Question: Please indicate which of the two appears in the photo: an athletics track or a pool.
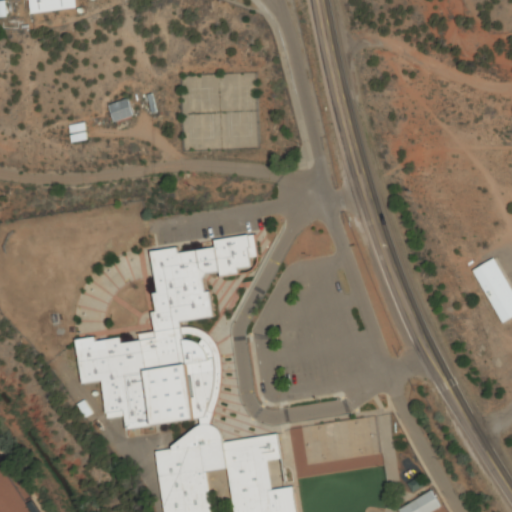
athletics track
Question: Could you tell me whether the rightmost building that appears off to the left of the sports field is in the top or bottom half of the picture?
bottom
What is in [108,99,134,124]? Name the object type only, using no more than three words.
house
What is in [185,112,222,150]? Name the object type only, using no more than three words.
sports court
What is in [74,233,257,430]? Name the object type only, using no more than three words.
building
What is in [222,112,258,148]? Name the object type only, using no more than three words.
sports court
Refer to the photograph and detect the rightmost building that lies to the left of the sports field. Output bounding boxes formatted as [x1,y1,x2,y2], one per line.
[224,434,297,512]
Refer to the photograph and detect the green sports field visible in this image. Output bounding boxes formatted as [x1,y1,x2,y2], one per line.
[299,466,388,512]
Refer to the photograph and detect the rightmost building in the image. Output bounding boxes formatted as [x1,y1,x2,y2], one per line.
[474,258,512,322]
